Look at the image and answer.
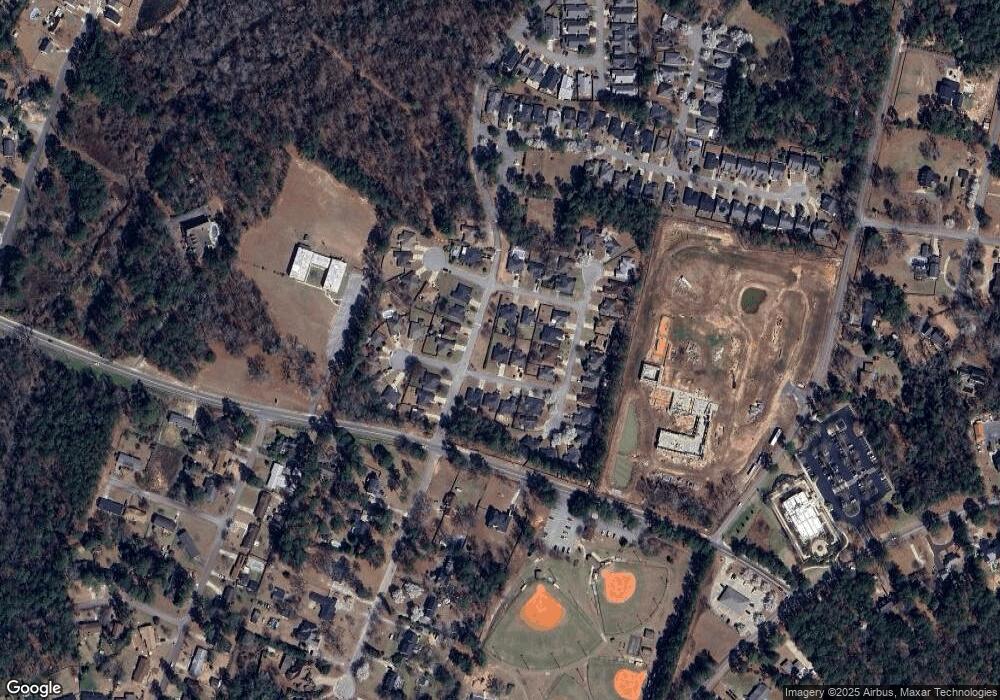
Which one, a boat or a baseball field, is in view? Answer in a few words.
baseball field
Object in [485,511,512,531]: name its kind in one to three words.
house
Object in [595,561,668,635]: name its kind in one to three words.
baseball field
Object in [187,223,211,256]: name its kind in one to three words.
building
